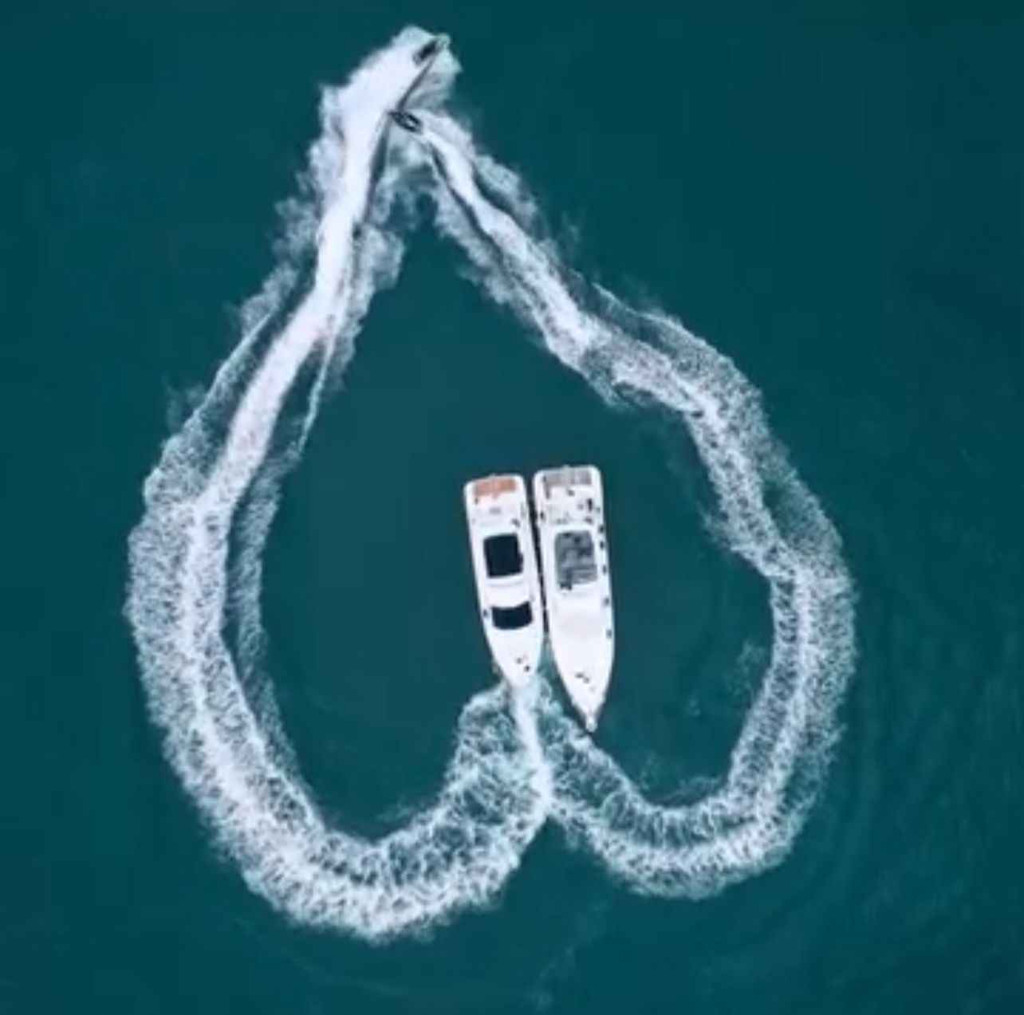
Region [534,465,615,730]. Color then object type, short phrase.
white boat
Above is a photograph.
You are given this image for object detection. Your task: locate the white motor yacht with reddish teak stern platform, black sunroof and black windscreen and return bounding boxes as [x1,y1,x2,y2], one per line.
[466,474,543,691]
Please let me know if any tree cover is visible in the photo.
No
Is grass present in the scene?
No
